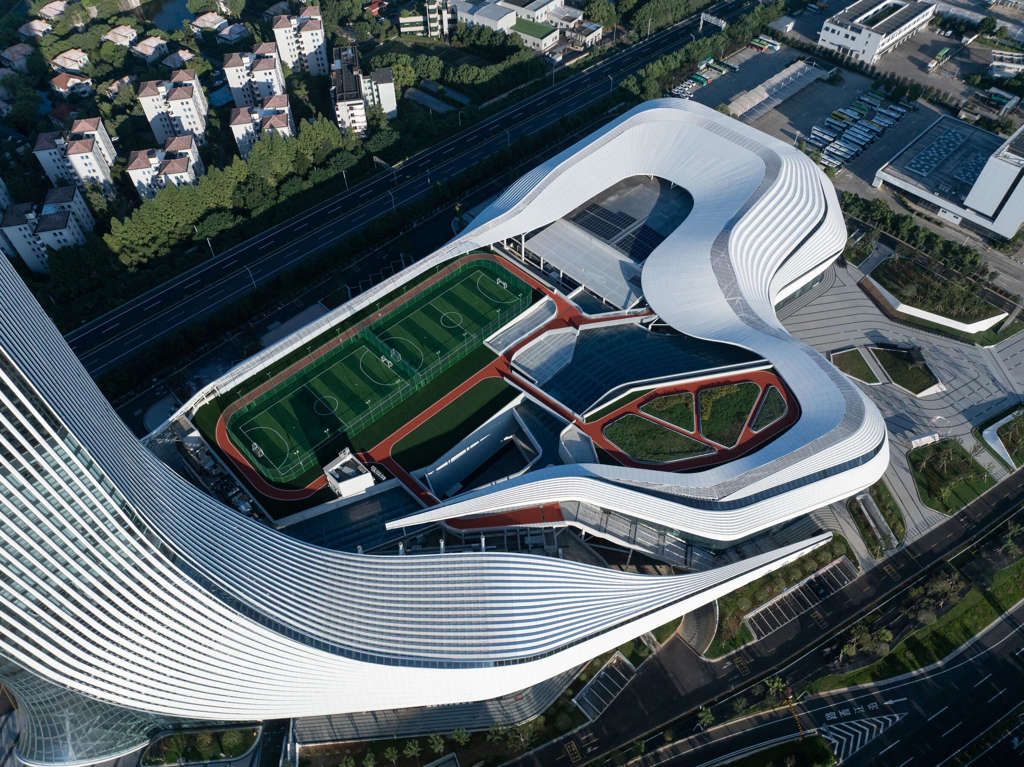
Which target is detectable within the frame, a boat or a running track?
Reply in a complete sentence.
There is a running track in the scene.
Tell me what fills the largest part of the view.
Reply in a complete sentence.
The bulk of the photo consists of buildings.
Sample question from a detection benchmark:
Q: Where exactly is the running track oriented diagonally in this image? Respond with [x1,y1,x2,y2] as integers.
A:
[216,254,553,499]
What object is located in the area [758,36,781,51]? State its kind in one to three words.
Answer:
vehicle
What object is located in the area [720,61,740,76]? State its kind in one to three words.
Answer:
vehicle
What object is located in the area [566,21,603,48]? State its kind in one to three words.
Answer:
building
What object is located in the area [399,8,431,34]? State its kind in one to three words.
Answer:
building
